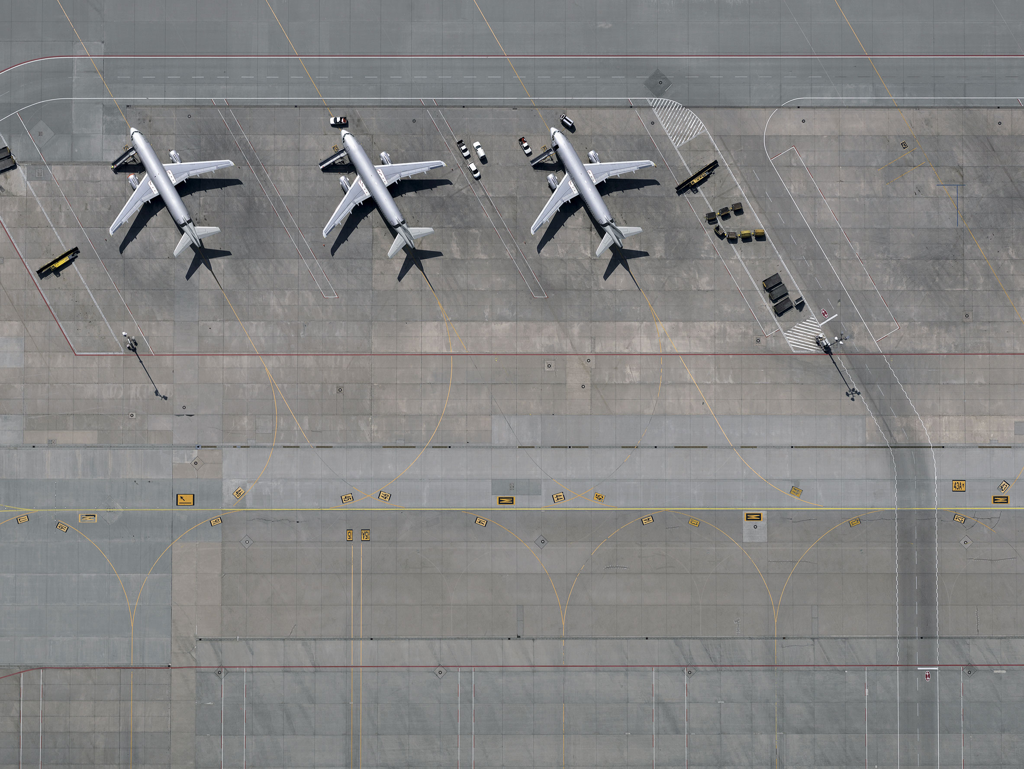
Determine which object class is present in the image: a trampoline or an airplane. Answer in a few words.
airplane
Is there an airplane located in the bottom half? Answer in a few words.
No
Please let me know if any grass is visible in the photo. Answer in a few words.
No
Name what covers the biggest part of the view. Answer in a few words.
paved ground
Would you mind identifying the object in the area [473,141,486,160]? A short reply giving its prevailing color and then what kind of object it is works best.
white vehicle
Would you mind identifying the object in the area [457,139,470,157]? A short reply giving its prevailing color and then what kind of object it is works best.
white vehicle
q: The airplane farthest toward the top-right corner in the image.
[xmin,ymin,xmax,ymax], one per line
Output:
[529,128,656,257]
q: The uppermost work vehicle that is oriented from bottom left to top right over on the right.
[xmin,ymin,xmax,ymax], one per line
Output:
[676,162,717,189]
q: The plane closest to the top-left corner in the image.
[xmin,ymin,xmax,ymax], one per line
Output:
[109,128,234,257]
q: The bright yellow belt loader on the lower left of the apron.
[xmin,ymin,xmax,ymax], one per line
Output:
[35,247,78,273]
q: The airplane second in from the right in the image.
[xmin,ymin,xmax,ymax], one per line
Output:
[322,130,447,258]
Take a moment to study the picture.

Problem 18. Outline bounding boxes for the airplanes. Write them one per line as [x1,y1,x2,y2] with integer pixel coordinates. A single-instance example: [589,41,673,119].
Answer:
[322,130,447,258]
[109,128,234,257]
[529,128,656,257]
